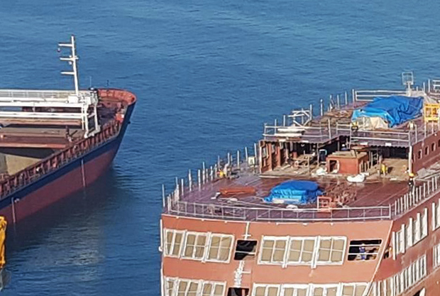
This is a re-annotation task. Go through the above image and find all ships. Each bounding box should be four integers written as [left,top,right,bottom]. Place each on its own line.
[0,36,128,250]
[158,69,440,296]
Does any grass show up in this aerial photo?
No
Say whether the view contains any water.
Yes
